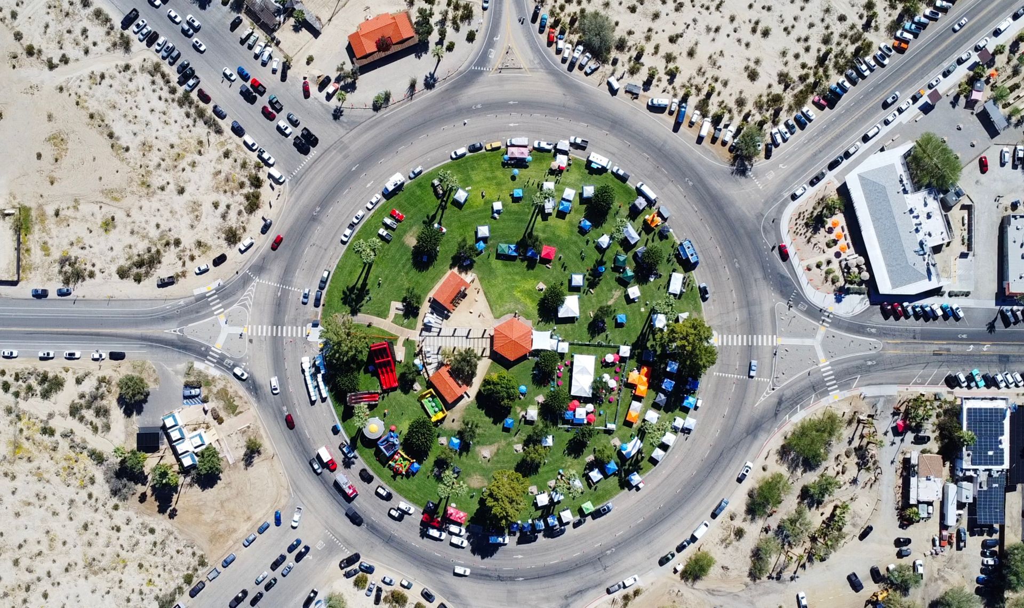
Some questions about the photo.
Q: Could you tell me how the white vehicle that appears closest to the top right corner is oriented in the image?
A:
at an angle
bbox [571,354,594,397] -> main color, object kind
white tent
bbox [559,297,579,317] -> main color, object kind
white tent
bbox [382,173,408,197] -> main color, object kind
white camper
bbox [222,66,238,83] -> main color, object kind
white car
